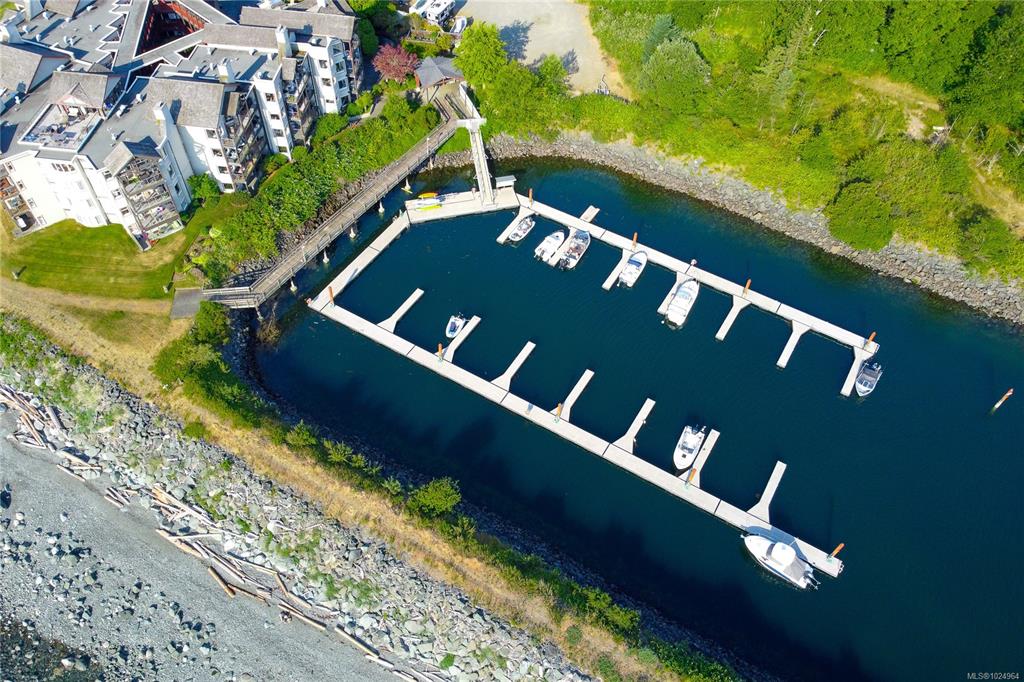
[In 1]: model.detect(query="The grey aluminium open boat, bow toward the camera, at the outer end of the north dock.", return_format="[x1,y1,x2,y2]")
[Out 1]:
[854,360,884,398]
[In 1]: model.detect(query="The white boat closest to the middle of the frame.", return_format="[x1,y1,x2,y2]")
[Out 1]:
[447,310,470,339]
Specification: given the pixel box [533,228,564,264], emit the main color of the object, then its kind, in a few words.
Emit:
white boat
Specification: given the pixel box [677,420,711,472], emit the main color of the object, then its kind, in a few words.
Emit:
white boat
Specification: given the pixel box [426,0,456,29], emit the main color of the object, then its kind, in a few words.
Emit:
white vehicle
